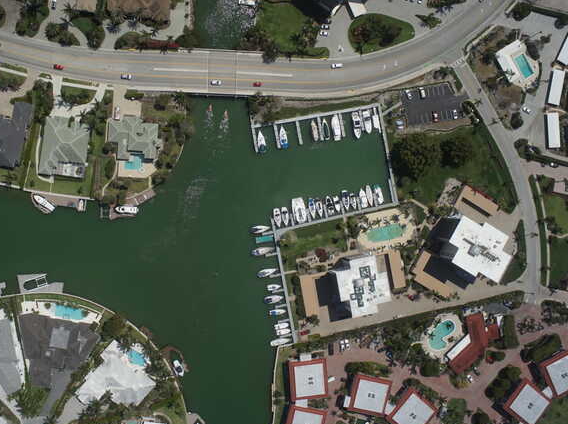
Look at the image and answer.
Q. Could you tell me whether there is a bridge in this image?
Yes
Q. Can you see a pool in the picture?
Yes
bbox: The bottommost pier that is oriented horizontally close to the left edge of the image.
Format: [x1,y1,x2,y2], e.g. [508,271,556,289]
[17,273,63,293]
